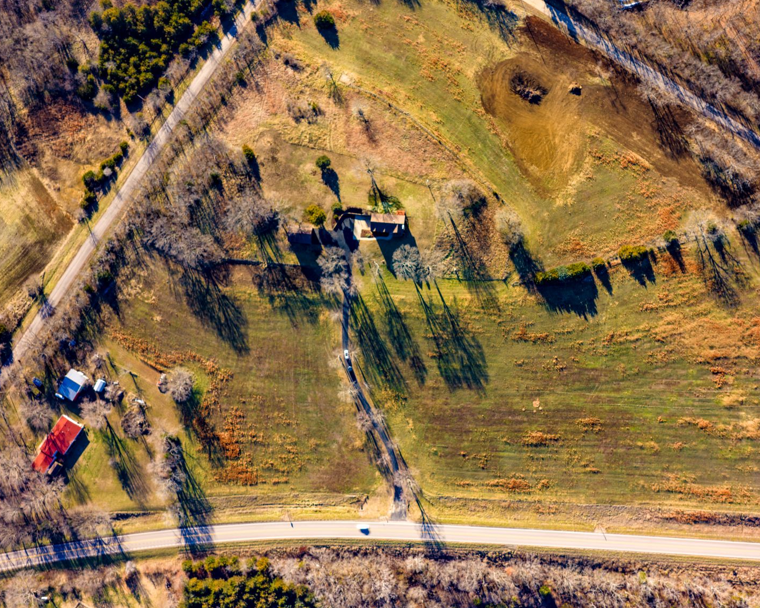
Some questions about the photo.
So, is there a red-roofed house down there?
Yes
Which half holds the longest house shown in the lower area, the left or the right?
left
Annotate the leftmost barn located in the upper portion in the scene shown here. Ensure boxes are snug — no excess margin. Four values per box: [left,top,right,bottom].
[285,223,321,245]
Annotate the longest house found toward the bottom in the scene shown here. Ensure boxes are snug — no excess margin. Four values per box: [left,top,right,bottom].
[34,413,88,472]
